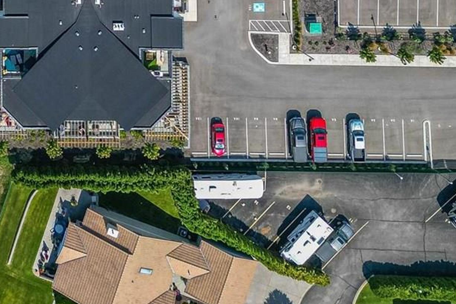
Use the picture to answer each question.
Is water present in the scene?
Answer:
No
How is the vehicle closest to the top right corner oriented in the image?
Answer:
up and down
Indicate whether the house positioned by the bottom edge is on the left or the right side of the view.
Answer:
left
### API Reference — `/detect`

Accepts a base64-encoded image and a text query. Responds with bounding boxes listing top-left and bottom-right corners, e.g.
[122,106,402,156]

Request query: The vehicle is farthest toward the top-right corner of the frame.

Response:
[348,119,369,162]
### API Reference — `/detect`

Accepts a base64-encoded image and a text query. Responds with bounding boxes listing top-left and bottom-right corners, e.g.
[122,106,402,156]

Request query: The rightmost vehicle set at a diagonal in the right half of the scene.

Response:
[314,219,356,263]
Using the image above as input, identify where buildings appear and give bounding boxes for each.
[52,200,257,304]
[0,0,189,149]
